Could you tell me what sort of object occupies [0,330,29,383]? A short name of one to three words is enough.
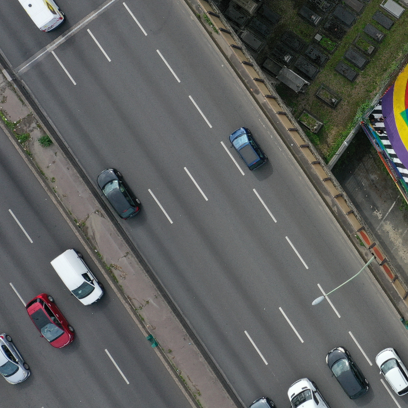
car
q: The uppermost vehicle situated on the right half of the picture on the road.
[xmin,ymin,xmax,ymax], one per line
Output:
[228,123,269,173]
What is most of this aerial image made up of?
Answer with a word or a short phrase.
paved ground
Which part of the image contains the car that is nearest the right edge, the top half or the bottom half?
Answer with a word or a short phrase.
bottom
